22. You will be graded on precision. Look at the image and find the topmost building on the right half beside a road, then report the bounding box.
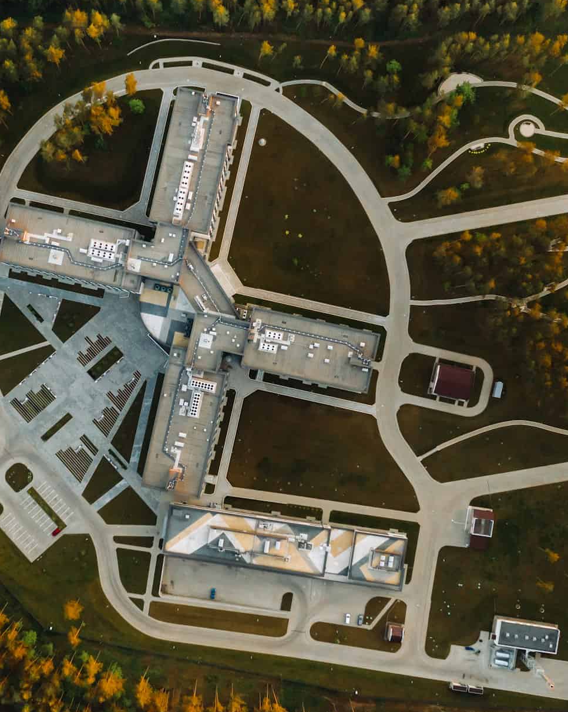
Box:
[428,362,475,402]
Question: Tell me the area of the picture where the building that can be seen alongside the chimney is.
bottom right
